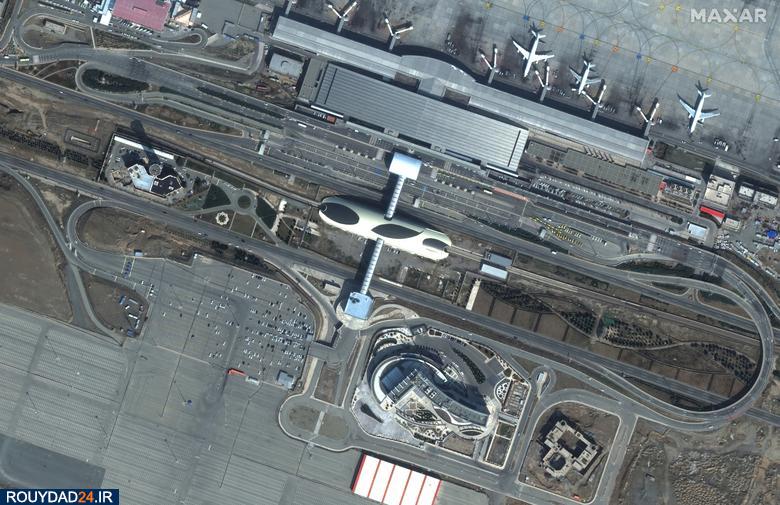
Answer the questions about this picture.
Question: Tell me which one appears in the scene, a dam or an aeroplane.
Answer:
aeroplane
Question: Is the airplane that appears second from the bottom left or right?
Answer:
right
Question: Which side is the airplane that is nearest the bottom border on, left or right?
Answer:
right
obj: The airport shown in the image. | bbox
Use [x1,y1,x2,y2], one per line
[262,0,780,178]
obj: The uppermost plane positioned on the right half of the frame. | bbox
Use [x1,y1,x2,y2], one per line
[512,31,555,76]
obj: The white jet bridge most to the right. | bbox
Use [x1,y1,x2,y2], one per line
[636,102,659,136]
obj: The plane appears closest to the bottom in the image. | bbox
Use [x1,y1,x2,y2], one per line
[679,92,720,133]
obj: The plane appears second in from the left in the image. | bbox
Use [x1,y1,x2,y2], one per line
[570,61,603,94]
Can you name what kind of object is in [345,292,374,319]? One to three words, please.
building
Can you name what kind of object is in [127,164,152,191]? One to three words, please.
building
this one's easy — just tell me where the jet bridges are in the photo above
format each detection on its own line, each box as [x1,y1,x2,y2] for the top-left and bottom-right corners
[581,85,607,120]
[385,18,414,50]
[286,0,305,17]
[480,49,498,83]
[636,102,659,136]
[328,1,358,32]
[535,66,550,101]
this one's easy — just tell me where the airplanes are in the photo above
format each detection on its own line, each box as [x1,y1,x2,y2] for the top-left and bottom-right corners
[570,61,603,94]
[679,92,720,133]
[512,31,555,76]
